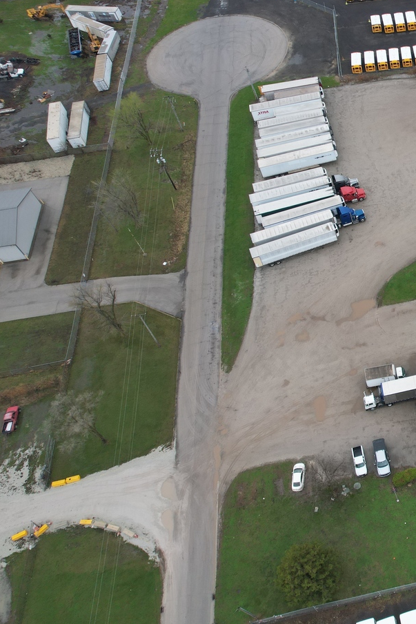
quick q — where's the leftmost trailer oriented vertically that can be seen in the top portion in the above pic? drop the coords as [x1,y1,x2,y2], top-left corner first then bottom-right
[47,102,66,150]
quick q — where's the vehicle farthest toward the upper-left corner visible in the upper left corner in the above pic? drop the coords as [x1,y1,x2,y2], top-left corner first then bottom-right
[24,4,67,22]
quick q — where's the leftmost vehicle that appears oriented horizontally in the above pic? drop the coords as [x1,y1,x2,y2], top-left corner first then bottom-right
[0,70,24,82]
